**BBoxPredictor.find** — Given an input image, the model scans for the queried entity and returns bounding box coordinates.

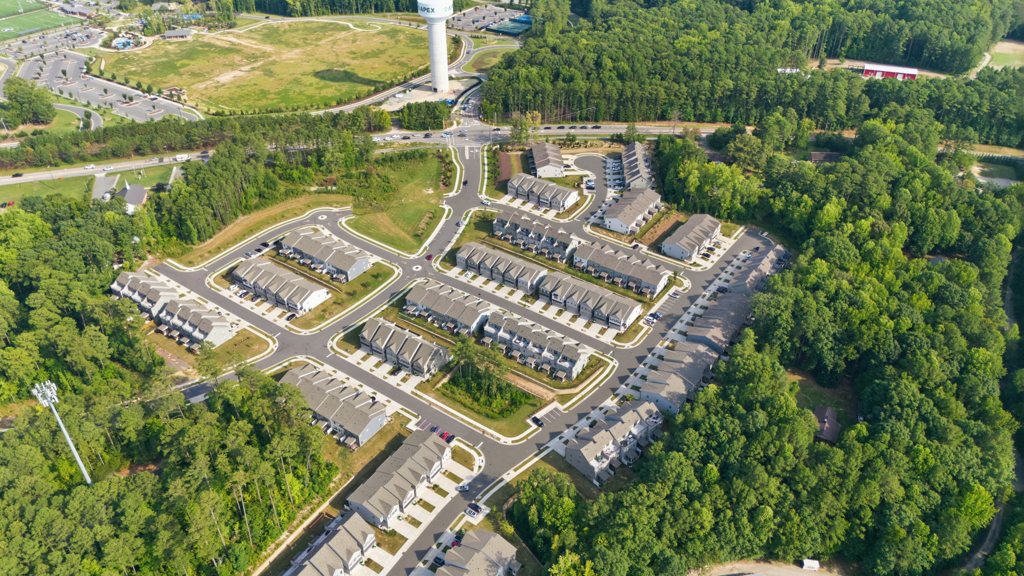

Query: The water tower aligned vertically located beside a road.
[416,0,453,95]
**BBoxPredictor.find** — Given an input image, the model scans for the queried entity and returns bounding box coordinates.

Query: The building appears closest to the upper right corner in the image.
[859,65,921,80]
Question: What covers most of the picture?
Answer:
trees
